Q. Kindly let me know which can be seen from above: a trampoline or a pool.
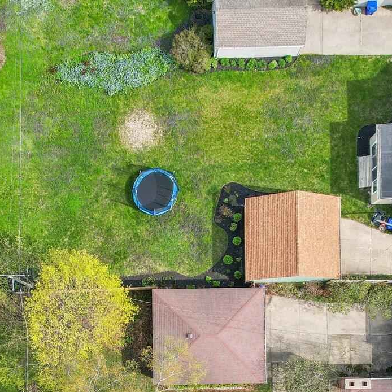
trampoline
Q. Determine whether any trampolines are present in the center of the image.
Yes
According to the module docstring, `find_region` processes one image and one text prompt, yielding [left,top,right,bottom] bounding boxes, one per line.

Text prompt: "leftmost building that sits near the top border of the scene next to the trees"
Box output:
[215,0,310,56]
